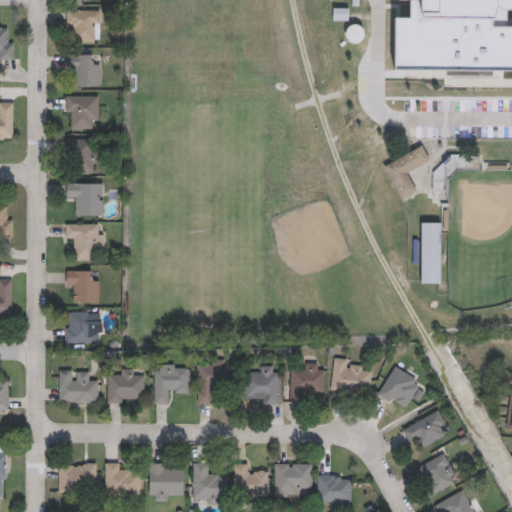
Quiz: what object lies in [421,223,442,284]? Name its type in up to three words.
barn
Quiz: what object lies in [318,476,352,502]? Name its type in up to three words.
house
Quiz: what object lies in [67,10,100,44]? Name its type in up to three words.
house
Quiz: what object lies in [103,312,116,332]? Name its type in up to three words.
swimming pool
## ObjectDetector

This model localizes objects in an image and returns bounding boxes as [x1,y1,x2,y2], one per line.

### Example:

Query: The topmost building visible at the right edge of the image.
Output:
[394,0,512,69]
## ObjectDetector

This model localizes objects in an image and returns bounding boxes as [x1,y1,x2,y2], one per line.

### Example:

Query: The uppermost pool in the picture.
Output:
[104,200,118,219]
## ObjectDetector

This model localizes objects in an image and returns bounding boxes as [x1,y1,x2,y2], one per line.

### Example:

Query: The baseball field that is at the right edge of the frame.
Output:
[448,170,512,311]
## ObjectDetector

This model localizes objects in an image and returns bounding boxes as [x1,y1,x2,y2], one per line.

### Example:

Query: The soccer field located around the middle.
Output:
[146,100,267,333]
